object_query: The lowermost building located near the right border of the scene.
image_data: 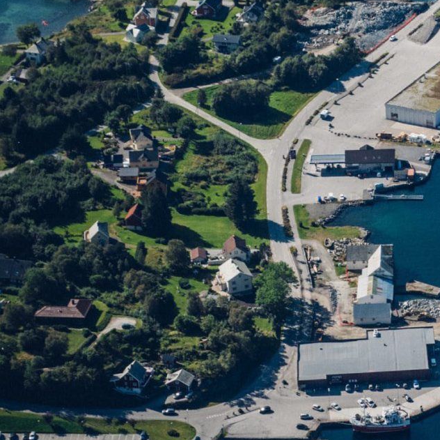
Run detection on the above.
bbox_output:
[298,325,435,393]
